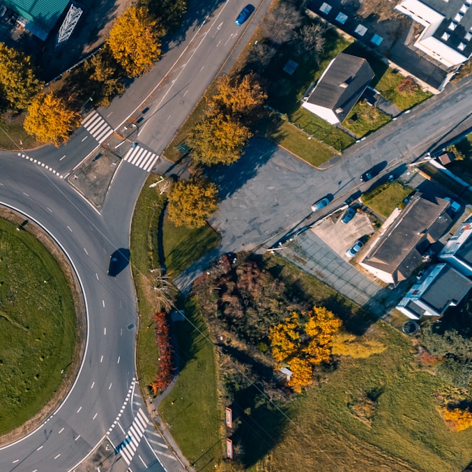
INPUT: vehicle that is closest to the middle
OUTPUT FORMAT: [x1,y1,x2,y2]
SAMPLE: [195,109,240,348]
[310,195,331,211]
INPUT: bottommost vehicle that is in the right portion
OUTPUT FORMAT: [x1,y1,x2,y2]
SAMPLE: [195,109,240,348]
[344,239,365,257]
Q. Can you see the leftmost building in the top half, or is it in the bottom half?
top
